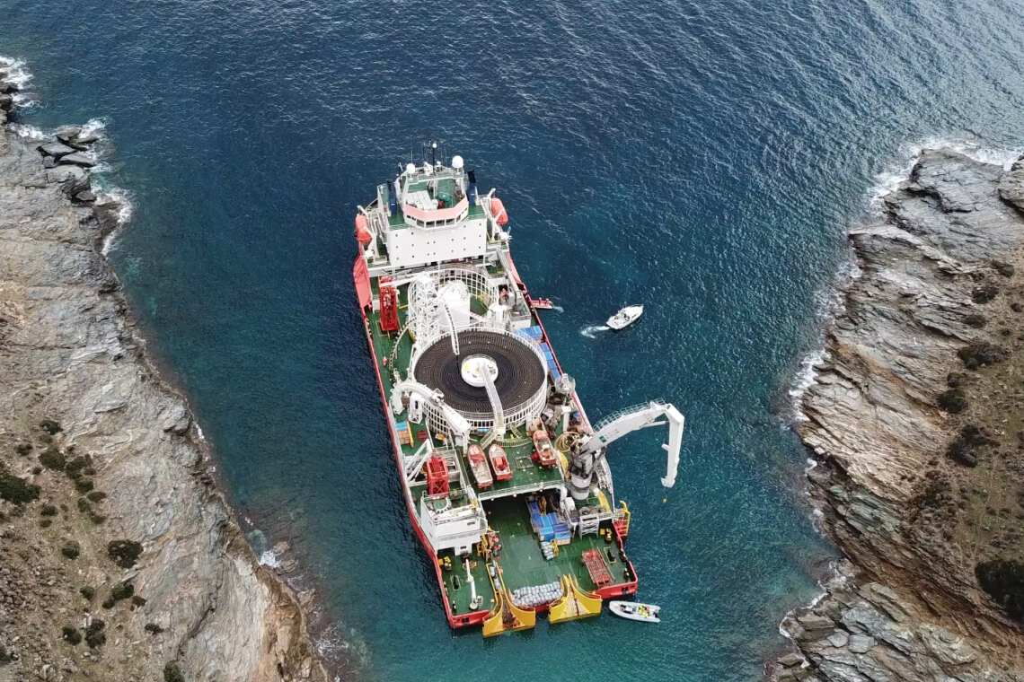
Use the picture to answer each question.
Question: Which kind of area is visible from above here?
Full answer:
This looks like a port.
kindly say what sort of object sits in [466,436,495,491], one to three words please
boat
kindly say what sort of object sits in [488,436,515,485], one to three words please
boat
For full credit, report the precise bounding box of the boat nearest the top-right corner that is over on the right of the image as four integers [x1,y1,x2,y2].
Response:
[608,301,643,327]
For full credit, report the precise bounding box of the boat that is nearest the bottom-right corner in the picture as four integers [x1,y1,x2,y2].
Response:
[609,600,666,621]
